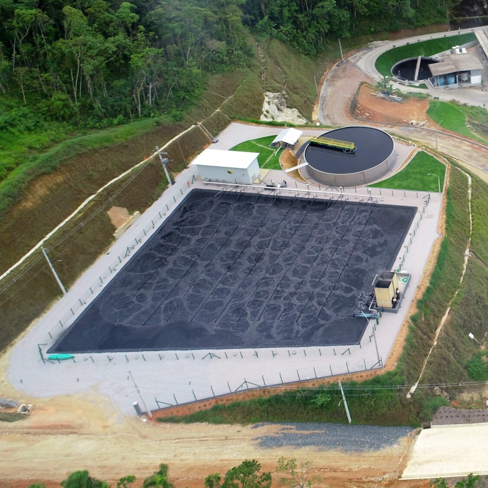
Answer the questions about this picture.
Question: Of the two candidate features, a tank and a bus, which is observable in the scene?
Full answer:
There is a tank in the scene.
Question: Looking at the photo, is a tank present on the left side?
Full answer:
No, on the left side there is no tank.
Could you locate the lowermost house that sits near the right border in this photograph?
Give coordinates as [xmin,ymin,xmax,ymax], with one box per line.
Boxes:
[428,53,484,89]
